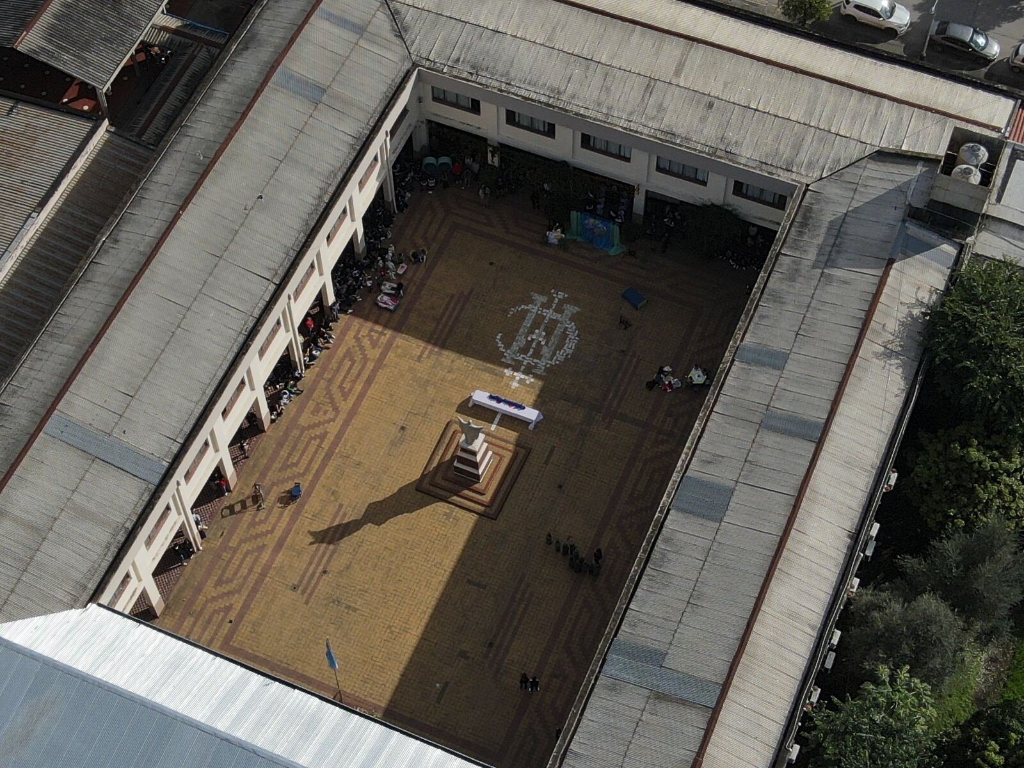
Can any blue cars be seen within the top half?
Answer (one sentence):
No, within the top half there is no blue car.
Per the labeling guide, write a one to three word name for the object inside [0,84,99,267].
building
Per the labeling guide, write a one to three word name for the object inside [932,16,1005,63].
car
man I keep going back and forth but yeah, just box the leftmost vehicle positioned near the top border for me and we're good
[843,0,918,37]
